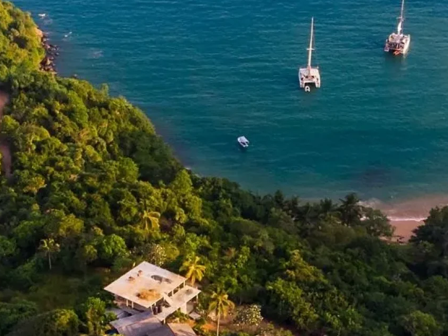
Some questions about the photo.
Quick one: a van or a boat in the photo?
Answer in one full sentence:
The one in the frame is a boat.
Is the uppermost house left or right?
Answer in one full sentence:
You can find the uppermost house on the left side of the picture.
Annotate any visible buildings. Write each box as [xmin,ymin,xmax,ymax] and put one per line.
[148,323,196,336]
[104,262,200,323]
